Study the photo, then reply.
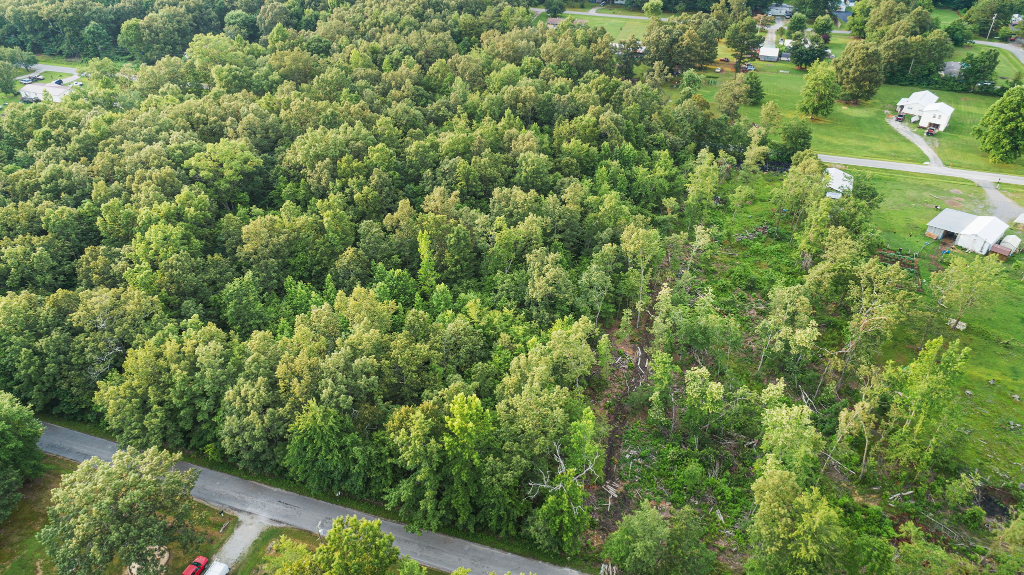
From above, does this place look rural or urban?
rural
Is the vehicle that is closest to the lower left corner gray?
No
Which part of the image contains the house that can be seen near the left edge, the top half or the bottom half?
top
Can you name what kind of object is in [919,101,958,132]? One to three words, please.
building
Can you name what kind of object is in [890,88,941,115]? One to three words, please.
house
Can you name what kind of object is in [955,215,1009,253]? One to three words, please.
barn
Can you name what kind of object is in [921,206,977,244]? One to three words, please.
shed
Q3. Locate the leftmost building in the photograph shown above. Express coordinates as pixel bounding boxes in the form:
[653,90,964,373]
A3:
[12,83,76,104]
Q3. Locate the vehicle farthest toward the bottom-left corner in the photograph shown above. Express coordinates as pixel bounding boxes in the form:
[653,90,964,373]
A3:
[176,555,211,575]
